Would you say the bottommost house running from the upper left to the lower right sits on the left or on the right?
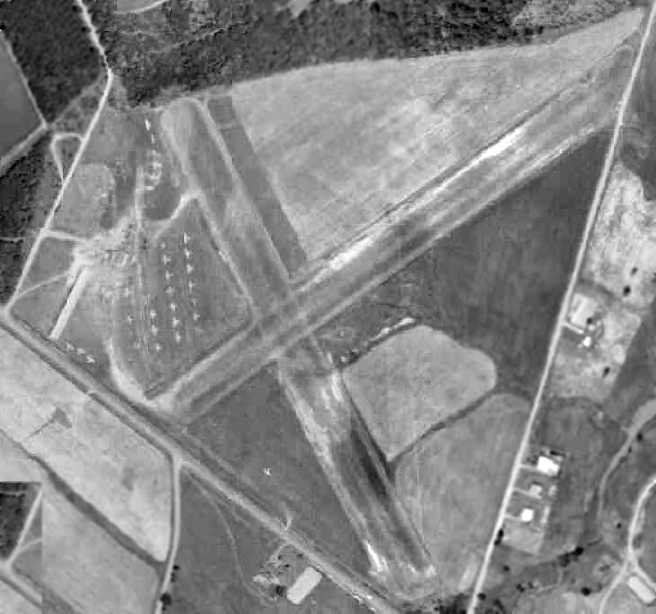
right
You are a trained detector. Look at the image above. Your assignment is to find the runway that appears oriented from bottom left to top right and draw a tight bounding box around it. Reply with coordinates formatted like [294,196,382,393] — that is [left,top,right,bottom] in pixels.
[141,34,639,427]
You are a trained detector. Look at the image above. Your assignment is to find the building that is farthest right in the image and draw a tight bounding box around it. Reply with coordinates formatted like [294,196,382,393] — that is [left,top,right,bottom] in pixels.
[628,576,655,604]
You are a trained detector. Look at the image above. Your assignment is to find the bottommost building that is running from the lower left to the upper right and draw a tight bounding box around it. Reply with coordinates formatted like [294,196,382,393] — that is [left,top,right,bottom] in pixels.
[286,567,322,605]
